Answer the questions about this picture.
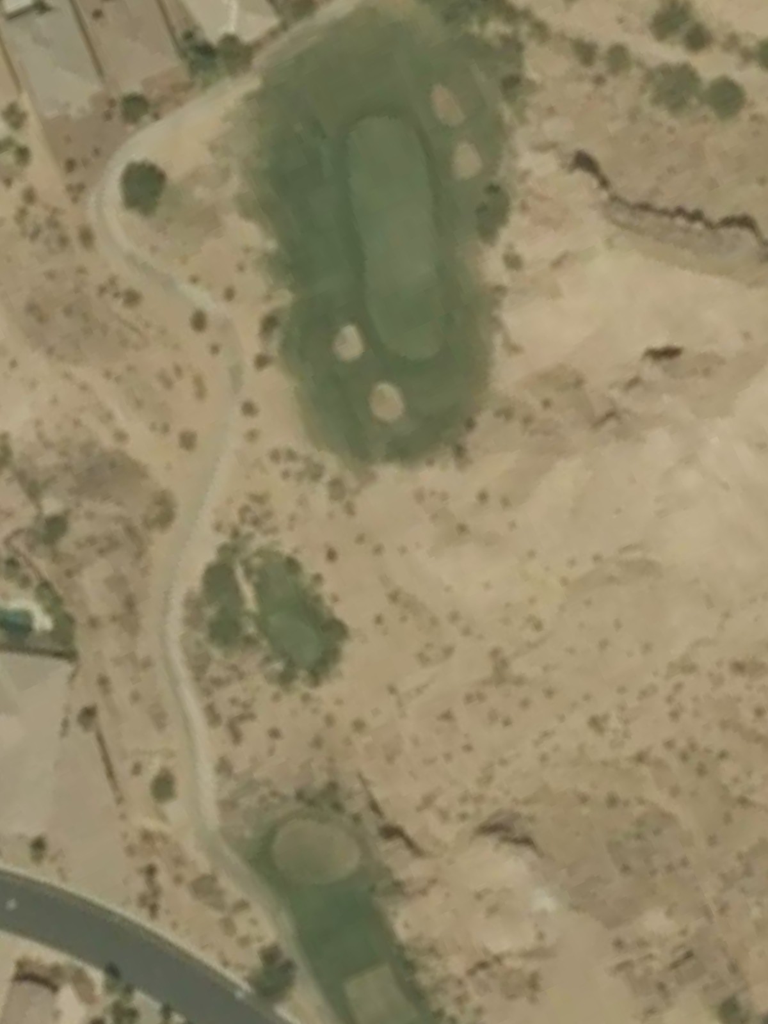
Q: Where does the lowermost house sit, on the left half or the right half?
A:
left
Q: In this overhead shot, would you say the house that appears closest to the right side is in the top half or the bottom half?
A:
top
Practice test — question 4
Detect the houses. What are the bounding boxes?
[0,653,71,835]
[80,0,178,88]
[185,0,264,40]
[3,982,56,1024]
[6,0,102,108]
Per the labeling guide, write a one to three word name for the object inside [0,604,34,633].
swimming pool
